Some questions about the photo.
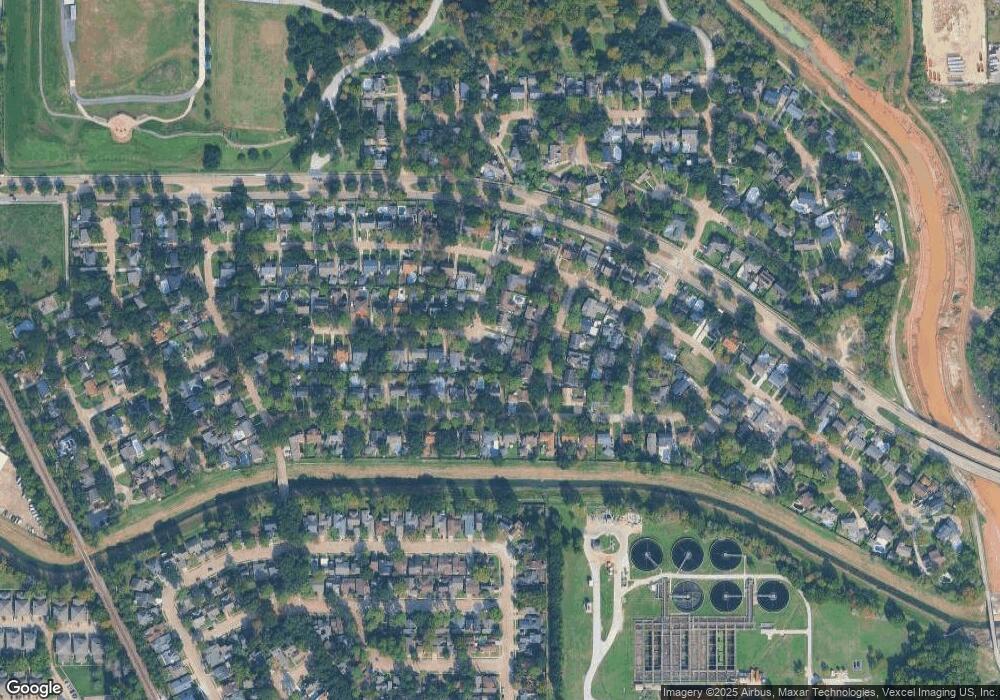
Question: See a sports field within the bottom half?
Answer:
No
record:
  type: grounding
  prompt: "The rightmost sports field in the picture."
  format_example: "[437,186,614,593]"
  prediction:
[211,3,285,128]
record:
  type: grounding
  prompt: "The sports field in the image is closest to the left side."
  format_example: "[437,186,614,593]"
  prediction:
[75,0,195,97]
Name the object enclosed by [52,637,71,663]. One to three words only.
house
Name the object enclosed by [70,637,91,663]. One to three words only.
house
